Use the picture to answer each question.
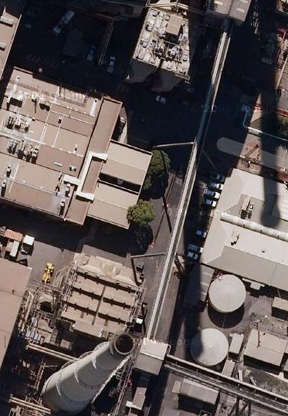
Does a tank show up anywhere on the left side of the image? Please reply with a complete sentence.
No, looking on the left side of the image, there is no tank.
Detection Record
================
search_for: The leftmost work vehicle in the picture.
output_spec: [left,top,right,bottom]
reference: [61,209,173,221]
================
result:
[43,260,55,282]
